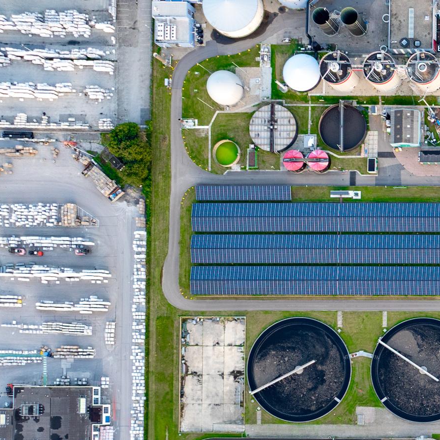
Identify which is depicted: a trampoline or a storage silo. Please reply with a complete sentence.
Visible in the photo is a storage silo.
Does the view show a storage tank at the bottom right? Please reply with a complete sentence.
Yes, there is a storage tank at the bottom right.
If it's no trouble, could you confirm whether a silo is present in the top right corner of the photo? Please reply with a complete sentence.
Yes, a silo shows up in the top right corner of the photo.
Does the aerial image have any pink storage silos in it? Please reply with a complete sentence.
Yes, the frame does contain a pink storage silo.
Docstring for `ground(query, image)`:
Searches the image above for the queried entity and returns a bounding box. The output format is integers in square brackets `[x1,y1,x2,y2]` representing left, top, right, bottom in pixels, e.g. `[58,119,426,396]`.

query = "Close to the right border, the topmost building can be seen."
[390,0,436,54]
